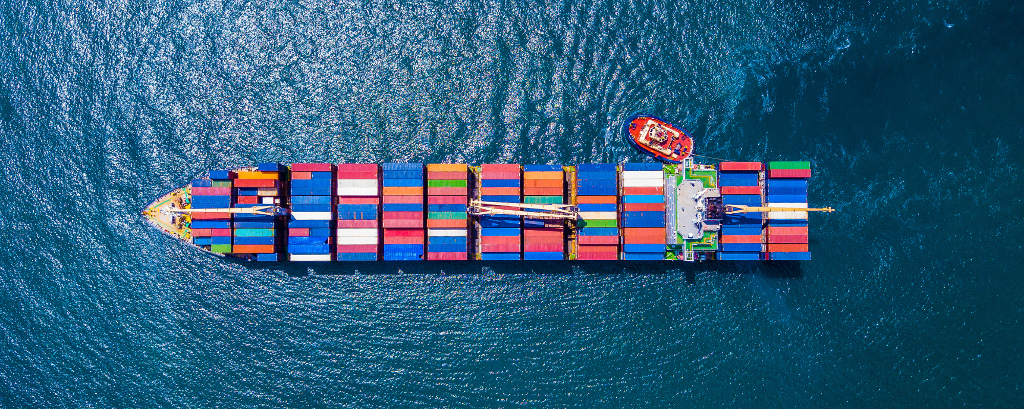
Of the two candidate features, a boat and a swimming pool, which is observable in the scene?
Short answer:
boat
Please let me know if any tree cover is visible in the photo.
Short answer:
No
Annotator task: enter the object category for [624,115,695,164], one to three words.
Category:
boat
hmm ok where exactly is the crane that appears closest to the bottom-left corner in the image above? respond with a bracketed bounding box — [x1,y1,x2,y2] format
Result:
[156,204,292,217]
